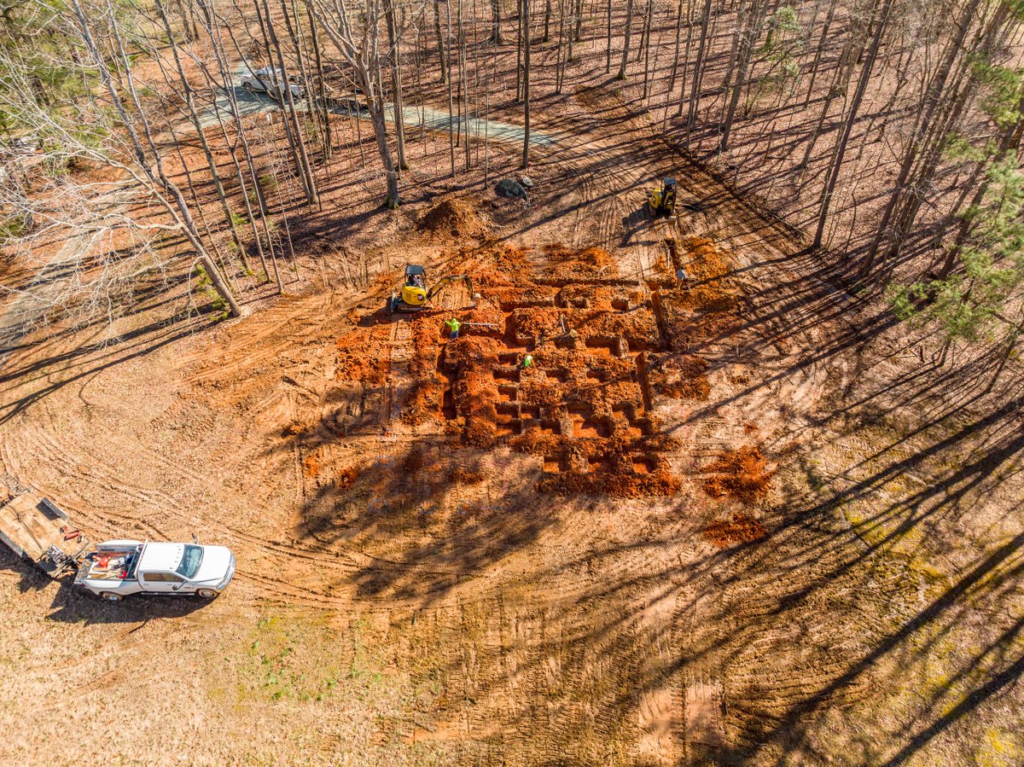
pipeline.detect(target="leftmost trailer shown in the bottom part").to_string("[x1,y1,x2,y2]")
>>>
[0,470,93,577]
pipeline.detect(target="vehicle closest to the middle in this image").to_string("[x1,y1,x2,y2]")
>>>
[389,267,475,311]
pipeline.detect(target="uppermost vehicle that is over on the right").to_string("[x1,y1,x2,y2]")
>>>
[647,178,678,223]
